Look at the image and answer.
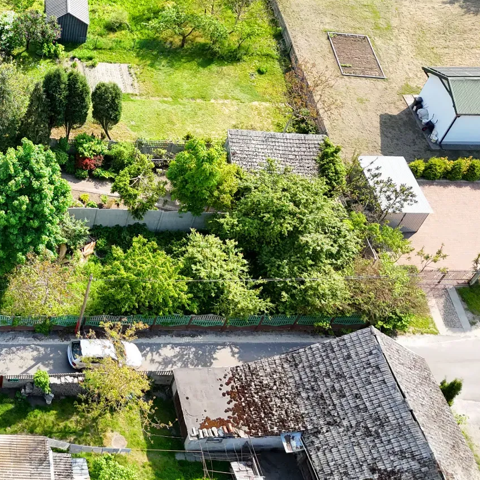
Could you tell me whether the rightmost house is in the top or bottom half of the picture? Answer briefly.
top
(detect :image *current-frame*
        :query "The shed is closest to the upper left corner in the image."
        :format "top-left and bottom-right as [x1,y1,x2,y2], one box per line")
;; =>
[43,0,89,42]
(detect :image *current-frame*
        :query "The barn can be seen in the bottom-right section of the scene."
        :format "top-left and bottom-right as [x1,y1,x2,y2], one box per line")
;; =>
[230,326,480,480]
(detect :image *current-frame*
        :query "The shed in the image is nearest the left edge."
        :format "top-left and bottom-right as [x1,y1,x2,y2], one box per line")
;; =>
[0,434,59,480]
